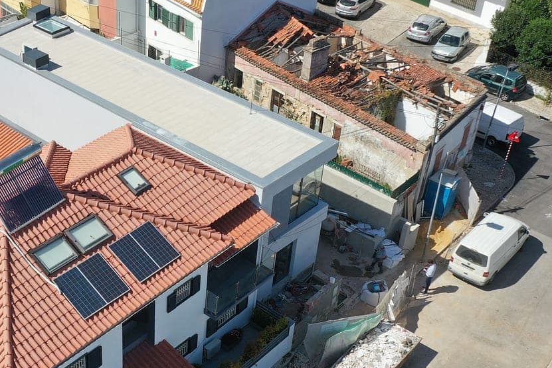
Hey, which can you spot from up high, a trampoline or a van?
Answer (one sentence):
Looking from above, you can make out a van.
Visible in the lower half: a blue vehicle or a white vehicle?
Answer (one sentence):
There is a white vehicle in the lower half.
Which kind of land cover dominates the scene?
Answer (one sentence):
For the most part, this view shows buildings.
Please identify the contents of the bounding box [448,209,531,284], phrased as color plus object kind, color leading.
white van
